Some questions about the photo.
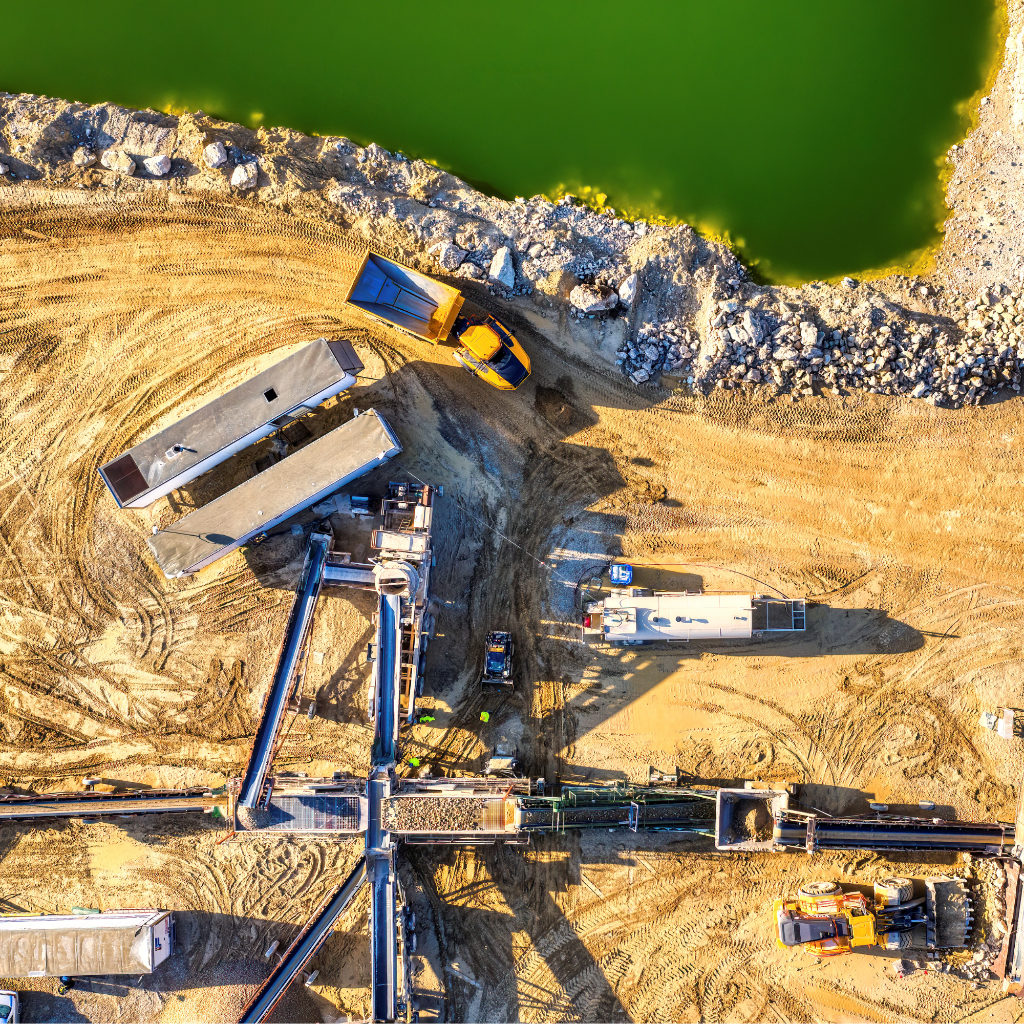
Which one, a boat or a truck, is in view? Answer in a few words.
truck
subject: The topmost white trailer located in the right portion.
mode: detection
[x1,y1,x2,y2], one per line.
[581,587,806,645]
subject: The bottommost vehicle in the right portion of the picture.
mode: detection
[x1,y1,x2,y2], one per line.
[769,875,971,957]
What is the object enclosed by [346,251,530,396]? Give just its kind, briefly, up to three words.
truck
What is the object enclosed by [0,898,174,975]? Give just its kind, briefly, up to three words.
trailer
